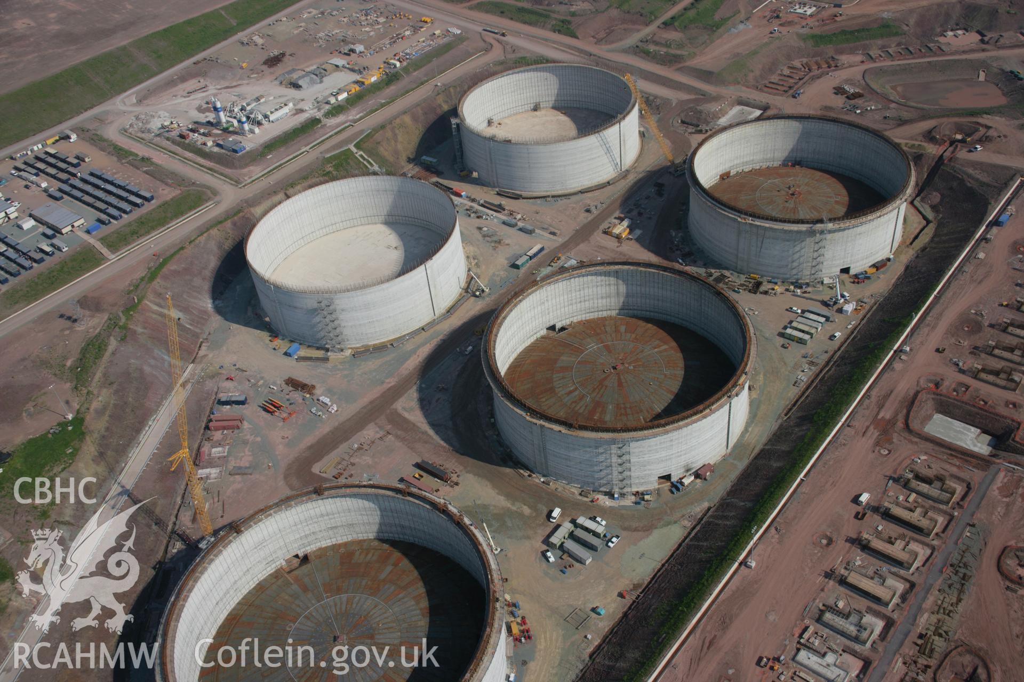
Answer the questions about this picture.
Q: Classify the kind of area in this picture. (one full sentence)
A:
This looks like an industrial area.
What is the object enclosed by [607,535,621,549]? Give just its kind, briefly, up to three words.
vehicle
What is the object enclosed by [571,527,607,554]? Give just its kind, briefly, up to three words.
building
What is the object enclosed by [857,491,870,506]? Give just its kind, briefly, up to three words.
vehicle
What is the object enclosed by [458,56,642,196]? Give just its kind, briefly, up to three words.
storage tank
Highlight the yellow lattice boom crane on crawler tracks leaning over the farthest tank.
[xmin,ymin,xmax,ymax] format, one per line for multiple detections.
[625,73,687,174]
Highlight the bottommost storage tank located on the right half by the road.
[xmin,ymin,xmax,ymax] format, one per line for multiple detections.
[487,261,759,493]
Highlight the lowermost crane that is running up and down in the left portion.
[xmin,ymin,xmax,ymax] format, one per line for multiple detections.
[166,292,229,547]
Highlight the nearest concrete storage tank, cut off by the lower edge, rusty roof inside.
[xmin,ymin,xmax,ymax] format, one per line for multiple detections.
[158,480,510,682]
